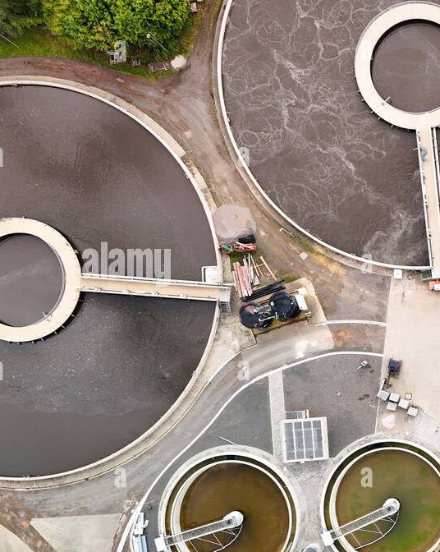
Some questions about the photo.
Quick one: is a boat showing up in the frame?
No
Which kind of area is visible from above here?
industrial area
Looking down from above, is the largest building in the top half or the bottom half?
bottom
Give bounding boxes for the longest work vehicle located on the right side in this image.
[387,360,400,386]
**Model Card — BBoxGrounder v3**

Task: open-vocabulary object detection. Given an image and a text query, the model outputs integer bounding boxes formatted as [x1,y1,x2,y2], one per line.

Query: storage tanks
[0,75,233,489]
[238,299,270,330]
[212,0,440,279]
[164,452,302,552]
[265,290,300,322]
[321,440,440,552]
